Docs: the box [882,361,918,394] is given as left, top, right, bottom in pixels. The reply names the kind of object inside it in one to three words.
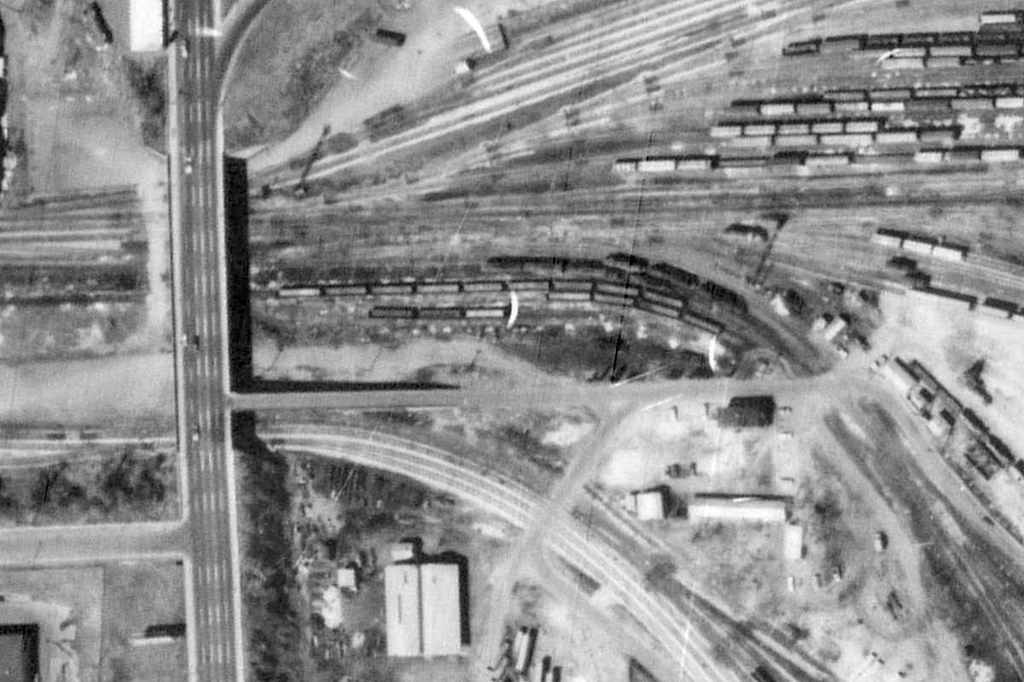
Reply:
shed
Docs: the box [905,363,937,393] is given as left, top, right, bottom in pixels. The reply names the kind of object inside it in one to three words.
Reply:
rail car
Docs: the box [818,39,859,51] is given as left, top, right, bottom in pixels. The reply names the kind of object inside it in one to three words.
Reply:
rail car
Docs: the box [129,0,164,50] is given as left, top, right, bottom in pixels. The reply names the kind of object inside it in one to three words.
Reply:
building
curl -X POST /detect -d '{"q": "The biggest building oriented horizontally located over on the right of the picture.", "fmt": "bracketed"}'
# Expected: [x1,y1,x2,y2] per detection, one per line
[687,500,786,522]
